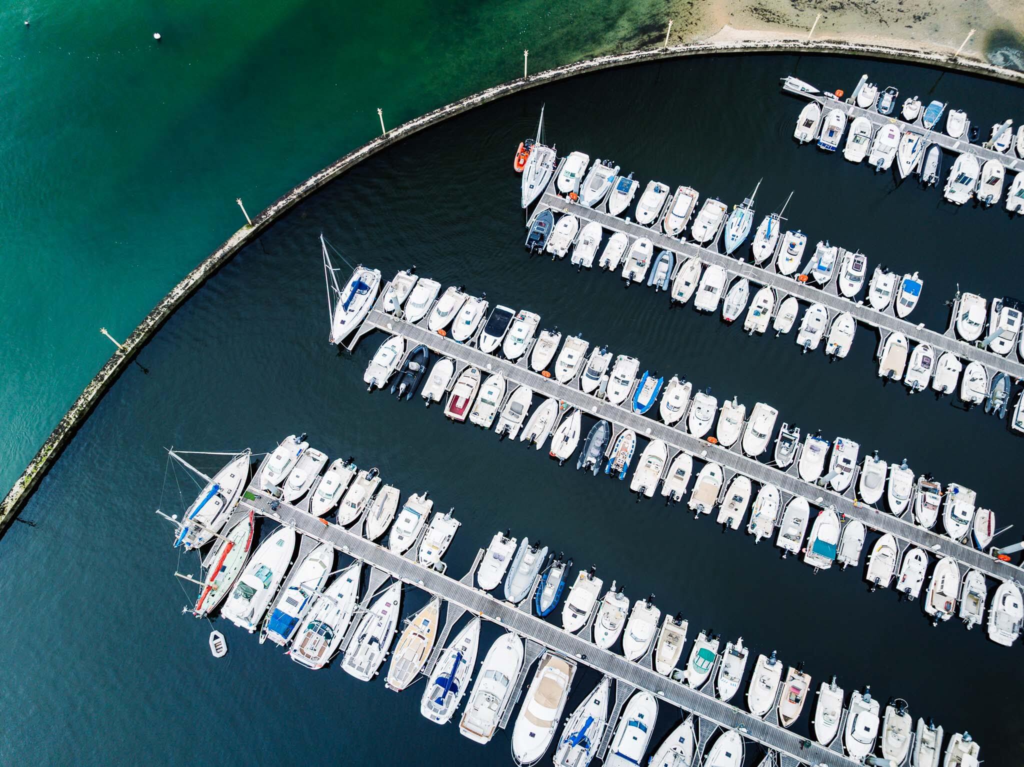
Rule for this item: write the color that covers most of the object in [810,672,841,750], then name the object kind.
white boat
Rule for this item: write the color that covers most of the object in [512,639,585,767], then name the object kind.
white boat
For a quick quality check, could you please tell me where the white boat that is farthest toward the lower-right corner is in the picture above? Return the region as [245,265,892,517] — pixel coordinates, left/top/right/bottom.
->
[939,728,977,767]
